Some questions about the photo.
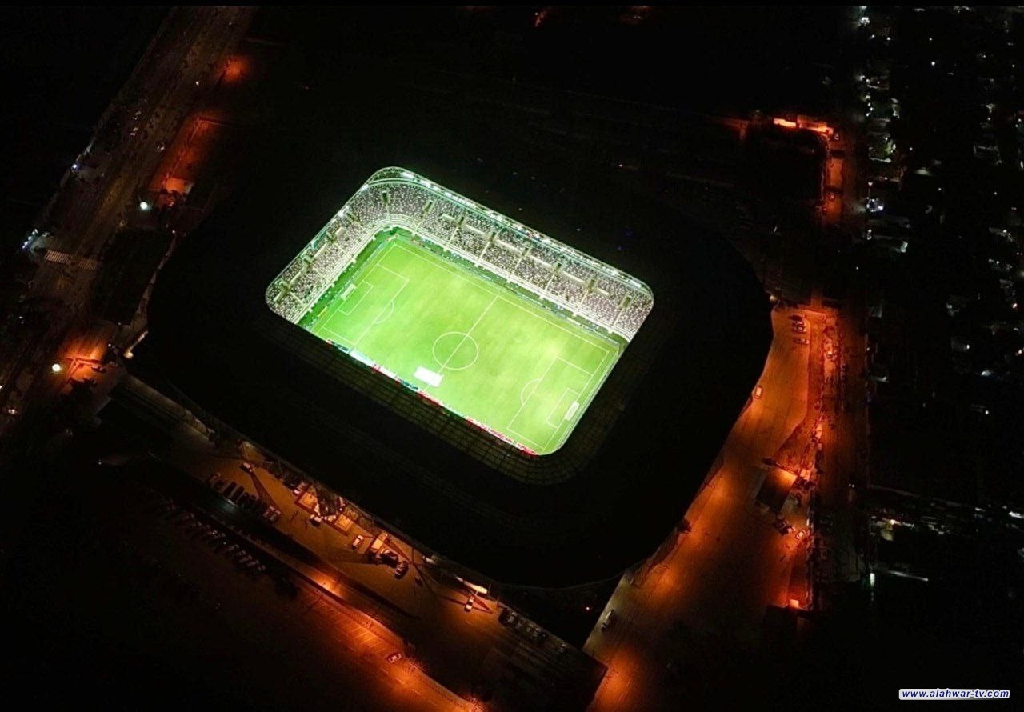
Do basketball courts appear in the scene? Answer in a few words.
No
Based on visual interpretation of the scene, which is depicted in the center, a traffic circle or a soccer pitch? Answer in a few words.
soccer pitch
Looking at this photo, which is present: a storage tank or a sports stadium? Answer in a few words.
sports stadium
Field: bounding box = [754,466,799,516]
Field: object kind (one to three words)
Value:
shed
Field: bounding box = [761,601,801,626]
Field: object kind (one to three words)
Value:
building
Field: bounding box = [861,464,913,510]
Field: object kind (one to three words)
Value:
house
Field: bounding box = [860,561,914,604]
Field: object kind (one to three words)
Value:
house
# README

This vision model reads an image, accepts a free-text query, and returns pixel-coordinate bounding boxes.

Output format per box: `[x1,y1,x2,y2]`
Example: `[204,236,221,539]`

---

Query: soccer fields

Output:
[296,228,626,451]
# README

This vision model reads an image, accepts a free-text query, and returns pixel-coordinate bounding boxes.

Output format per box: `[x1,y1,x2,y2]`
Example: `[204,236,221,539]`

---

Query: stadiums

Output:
[138,98,770,649]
